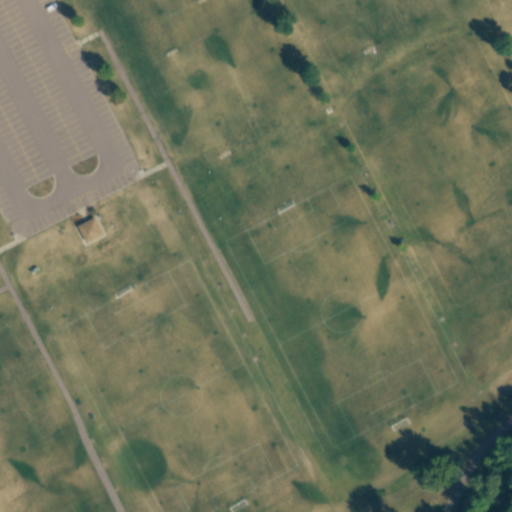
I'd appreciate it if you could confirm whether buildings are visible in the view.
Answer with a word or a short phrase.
Yes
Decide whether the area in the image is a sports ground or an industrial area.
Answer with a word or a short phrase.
sports ground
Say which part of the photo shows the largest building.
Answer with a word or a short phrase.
left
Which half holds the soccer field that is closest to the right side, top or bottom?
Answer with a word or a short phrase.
top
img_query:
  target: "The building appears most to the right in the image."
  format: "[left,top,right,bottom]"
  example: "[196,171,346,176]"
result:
[78,218,106,245]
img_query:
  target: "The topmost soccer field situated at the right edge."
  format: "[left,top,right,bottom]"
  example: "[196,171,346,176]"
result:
[346,36,512,306]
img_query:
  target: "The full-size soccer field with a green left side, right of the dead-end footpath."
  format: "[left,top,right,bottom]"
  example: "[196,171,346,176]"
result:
[226,174,460,446]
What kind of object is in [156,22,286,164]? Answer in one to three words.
soccer field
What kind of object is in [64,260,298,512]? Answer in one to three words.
soccer field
